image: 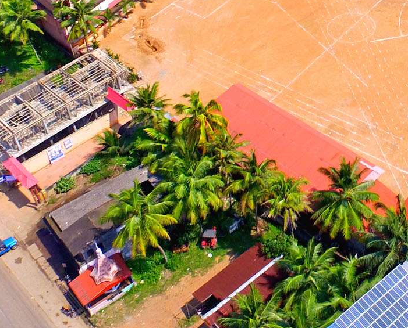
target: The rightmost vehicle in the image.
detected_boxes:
[199,228,217,253]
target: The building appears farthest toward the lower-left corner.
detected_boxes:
[73,245,135,315]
